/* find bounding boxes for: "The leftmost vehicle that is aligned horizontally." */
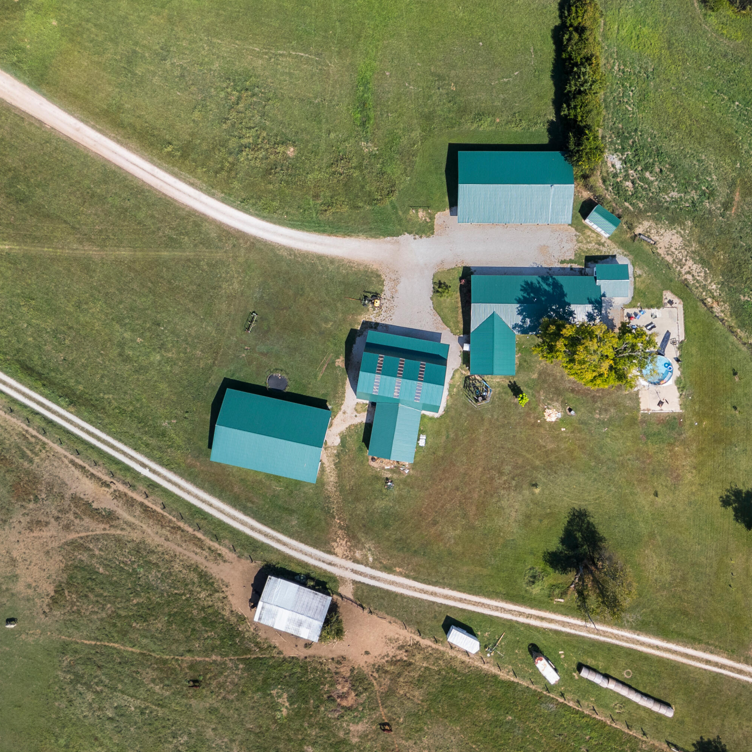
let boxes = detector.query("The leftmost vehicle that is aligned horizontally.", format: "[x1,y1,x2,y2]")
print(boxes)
[345,296,383,308]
